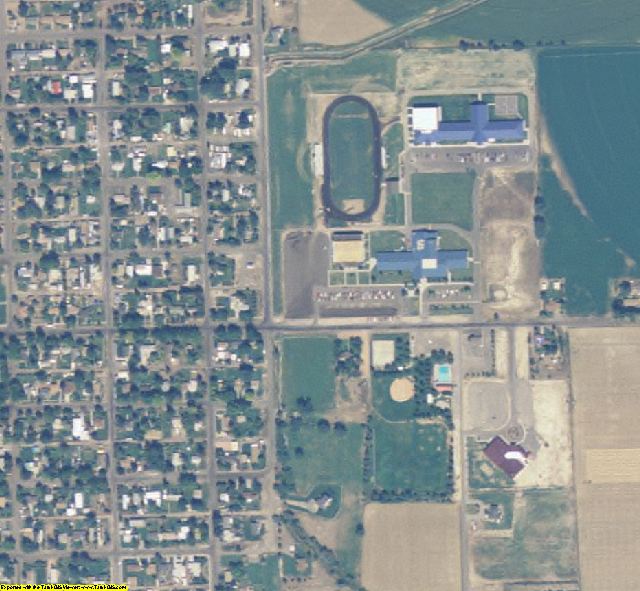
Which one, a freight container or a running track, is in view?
running track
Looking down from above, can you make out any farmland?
Yes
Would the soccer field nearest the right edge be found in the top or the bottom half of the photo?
bottom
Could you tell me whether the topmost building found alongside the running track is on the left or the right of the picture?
right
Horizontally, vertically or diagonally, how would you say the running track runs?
vertically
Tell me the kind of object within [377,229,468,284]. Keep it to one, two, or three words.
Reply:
building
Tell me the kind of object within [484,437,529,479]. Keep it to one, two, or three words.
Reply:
building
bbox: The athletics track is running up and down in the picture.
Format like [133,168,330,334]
[322,96,381,222]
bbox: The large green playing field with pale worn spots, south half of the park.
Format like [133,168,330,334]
[376,423,448,490]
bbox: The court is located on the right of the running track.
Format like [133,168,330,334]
[495,95,519,116]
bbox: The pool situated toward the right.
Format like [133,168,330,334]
[434,365,451,384]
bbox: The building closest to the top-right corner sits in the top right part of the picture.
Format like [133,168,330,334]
[412,101,528,147]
